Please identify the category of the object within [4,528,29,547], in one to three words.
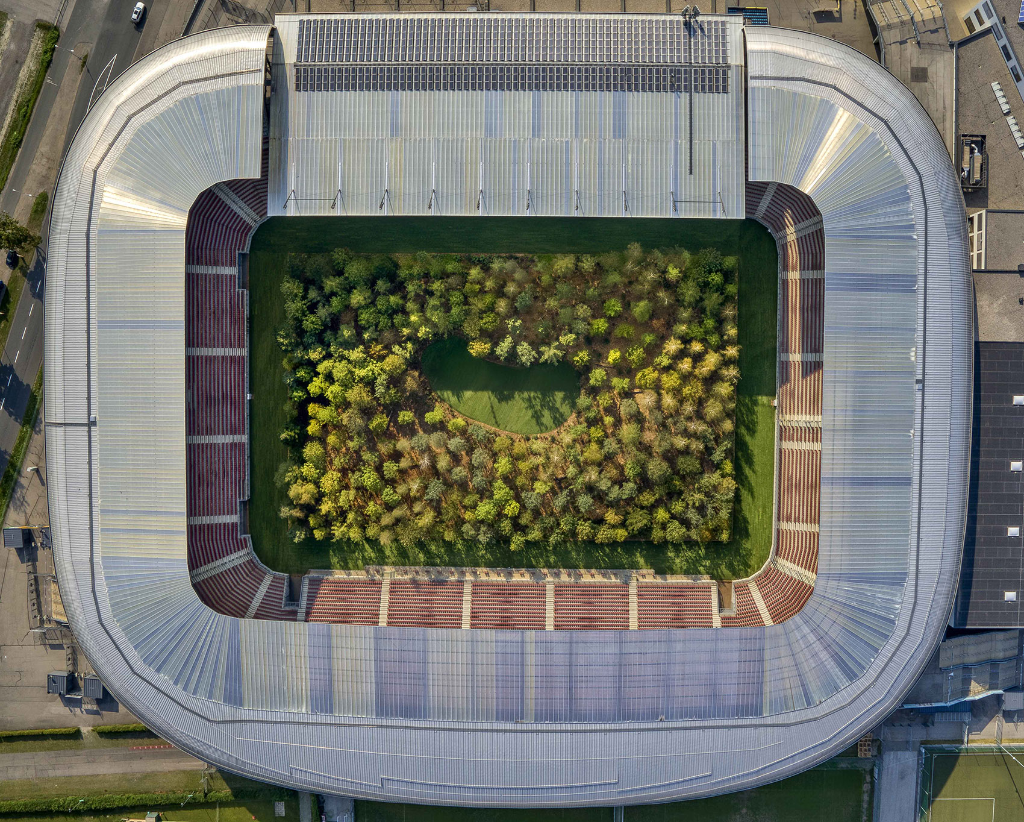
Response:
shed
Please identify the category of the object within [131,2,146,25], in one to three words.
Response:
car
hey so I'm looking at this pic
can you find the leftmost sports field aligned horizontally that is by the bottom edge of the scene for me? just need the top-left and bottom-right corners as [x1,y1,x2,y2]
[356,746,857,822]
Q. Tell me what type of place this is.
sports ground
